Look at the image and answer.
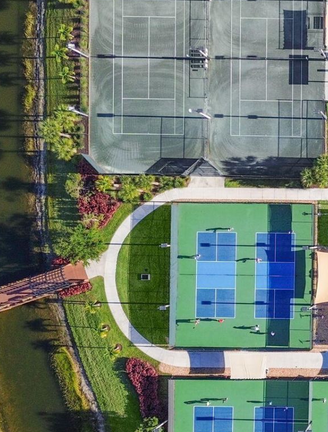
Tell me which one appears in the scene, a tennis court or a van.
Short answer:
tennis court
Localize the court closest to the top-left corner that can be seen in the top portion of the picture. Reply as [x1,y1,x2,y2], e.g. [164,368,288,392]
[87,0,208,174]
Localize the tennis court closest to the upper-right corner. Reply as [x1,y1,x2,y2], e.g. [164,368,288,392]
[207,0,325,176]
